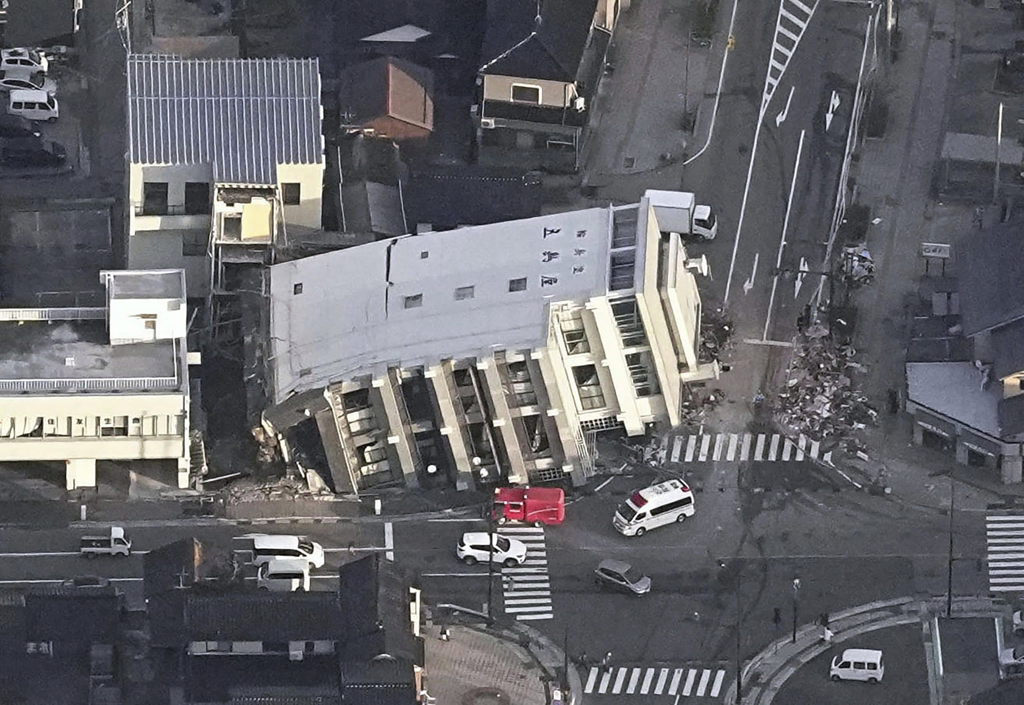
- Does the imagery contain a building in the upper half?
Yes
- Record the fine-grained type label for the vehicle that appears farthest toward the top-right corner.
truck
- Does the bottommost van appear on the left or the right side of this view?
right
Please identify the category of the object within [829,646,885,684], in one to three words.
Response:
van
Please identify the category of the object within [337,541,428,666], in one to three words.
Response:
house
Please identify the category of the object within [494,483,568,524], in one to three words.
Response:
truck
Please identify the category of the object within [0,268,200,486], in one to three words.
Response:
building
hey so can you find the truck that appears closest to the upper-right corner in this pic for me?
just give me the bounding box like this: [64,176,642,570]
[644,189,718,243]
